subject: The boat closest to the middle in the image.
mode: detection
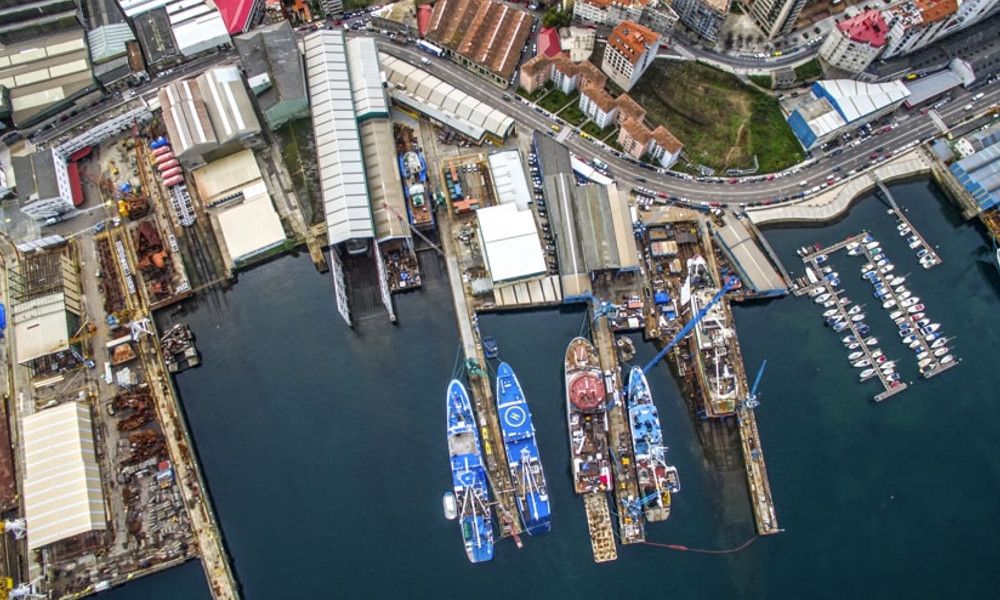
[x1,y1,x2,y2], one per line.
[482,337,498,359]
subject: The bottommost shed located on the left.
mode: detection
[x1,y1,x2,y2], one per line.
[21,402,105,550]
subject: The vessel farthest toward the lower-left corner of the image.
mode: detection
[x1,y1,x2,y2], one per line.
[161,320,202,375]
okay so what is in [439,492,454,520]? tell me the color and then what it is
white boat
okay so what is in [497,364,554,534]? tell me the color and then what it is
blue ship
